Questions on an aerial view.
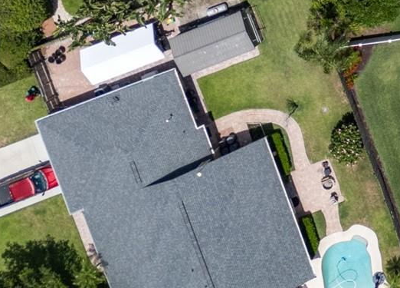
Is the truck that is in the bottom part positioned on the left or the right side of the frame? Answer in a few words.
left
